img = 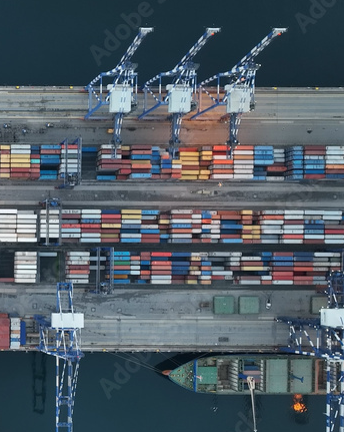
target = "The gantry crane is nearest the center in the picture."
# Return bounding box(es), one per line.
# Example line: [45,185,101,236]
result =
[87,247,117,292]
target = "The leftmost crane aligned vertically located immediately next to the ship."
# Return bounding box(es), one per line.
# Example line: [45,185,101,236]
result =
[30,282,87,432]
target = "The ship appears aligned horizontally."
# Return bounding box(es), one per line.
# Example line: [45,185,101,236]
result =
[112,350,342,432]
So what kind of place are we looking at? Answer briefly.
port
